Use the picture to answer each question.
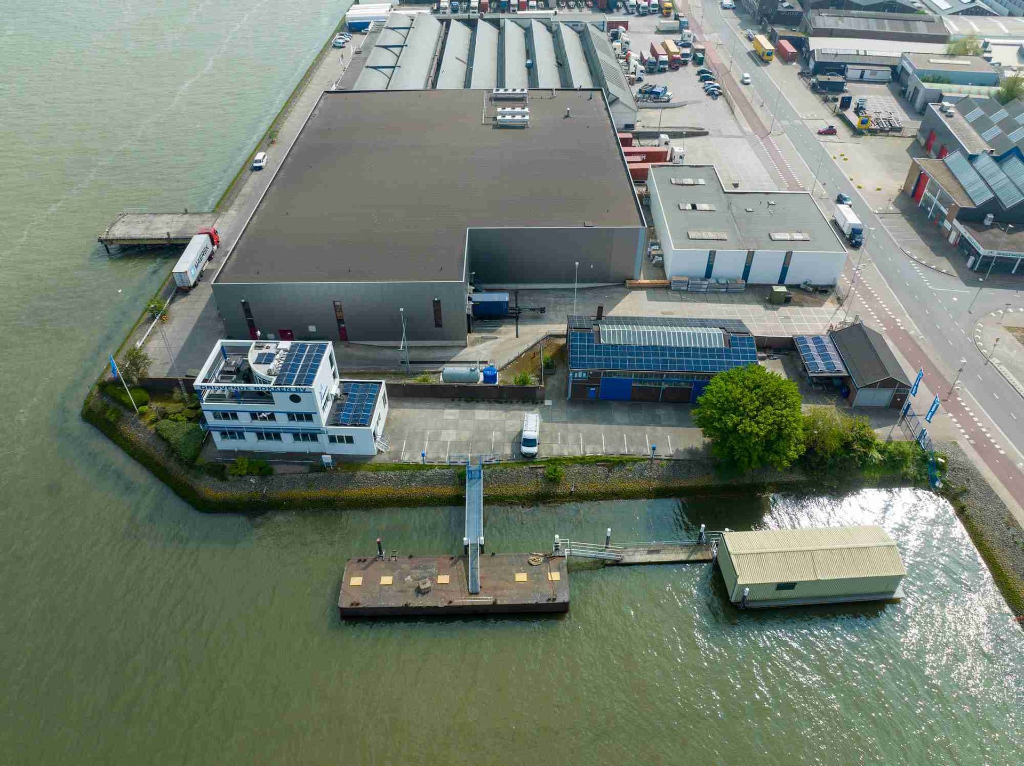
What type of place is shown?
port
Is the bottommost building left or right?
right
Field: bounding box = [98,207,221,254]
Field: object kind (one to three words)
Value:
pier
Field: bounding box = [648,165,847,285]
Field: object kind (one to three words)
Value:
building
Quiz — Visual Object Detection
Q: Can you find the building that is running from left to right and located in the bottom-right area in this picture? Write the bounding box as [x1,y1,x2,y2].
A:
[719,524,906,612]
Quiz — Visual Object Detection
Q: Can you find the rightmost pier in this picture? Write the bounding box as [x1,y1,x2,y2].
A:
[622,537,719,565]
